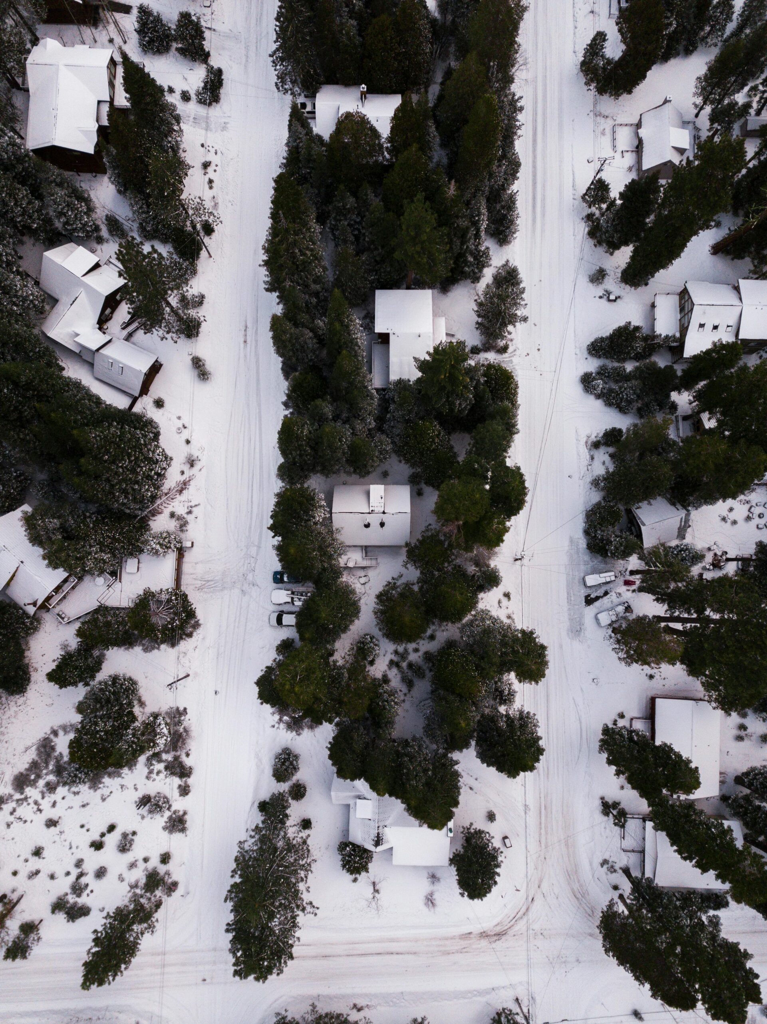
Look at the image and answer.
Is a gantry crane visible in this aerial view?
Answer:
No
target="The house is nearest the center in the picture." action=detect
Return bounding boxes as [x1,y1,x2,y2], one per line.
[332,485,411,571]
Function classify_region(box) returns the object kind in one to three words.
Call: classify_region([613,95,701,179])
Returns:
house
